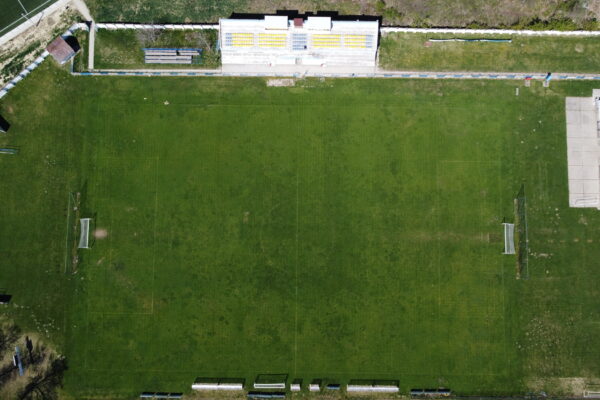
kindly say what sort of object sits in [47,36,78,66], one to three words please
shed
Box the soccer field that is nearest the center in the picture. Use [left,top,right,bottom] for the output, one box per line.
[62,90,521,391]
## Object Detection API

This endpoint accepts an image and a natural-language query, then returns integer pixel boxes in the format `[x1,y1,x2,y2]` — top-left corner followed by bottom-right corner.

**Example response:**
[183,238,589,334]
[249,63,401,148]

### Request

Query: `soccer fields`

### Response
[0,0,68,46]
[62,90,521,391]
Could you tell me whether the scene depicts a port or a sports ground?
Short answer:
sports ground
